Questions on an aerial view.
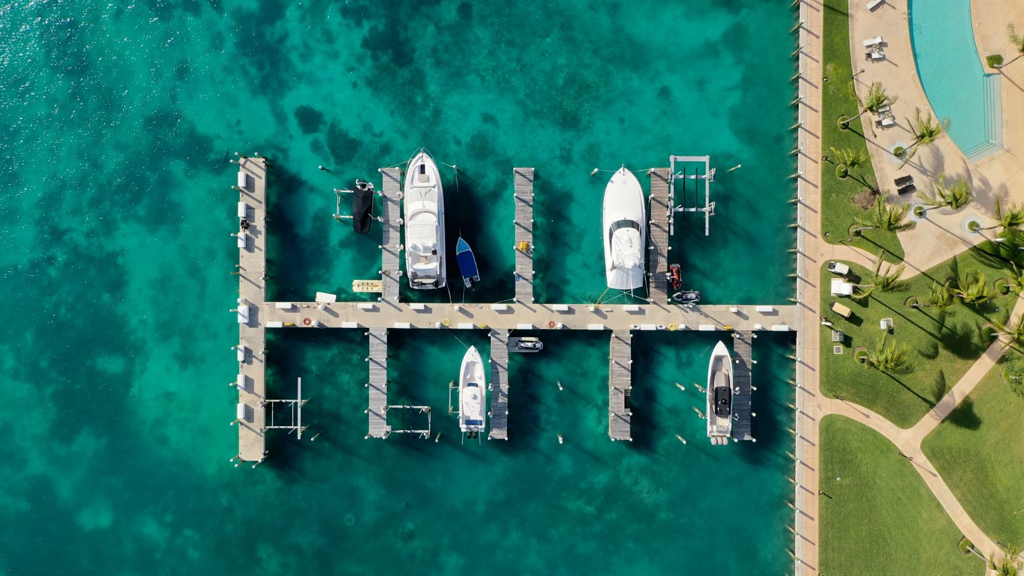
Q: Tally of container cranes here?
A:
zero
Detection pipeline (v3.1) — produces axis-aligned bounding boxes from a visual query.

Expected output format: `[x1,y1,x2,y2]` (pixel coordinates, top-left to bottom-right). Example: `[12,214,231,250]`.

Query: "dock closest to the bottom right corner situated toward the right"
[732,330,751,440]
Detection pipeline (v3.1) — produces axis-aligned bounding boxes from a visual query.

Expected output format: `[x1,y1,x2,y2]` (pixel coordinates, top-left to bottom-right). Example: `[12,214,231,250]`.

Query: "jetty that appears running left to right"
[265,302,796,331]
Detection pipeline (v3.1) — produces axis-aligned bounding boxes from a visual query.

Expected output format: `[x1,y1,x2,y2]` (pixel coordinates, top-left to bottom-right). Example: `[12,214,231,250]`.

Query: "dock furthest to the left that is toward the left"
[239,158,268,461]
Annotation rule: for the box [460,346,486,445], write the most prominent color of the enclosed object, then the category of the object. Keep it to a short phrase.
white boat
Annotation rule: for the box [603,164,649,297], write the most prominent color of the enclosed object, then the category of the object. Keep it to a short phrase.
white boat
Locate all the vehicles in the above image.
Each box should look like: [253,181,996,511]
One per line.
[820,259,851,276]
[822,299,851,318]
